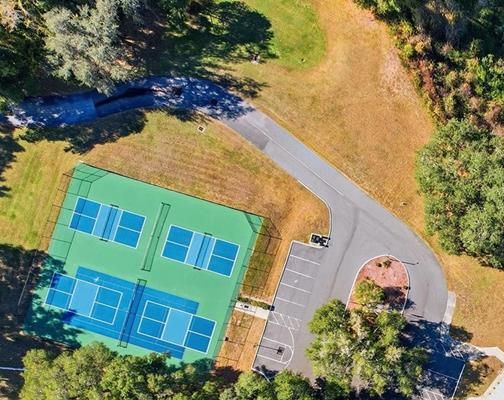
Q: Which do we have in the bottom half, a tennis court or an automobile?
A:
tennis court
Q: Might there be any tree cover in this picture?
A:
Yes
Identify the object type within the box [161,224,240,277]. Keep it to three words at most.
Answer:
sports court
